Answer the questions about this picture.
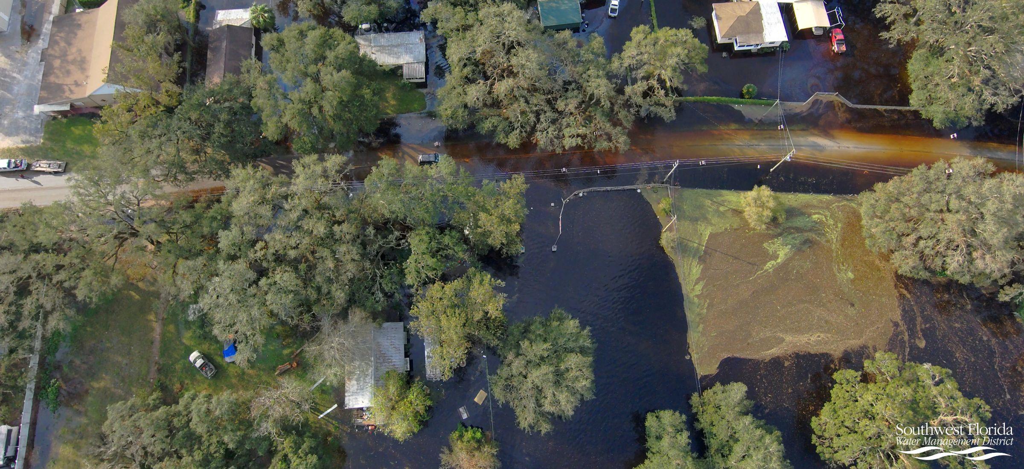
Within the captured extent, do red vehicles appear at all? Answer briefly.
Yes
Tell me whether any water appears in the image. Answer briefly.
Yes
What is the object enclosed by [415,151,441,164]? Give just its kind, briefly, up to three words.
vehicle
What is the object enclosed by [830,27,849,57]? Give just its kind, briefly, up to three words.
vehicle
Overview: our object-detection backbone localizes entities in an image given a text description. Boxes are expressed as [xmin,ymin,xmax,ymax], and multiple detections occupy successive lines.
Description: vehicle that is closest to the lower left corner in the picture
[190,348,218,382]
